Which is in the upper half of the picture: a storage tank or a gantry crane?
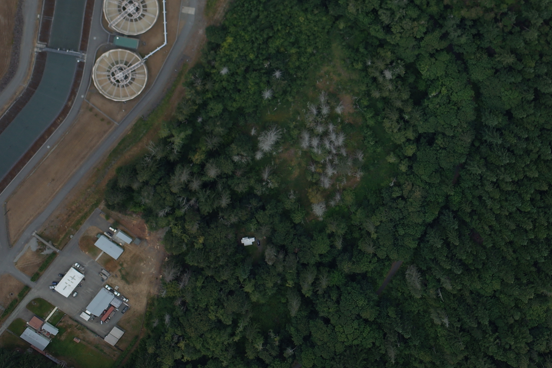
storage tank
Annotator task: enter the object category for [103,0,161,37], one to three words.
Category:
storage tank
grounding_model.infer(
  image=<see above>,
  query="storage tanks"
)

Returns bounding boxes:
[103,0,161,37]
[92,48,150,102]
